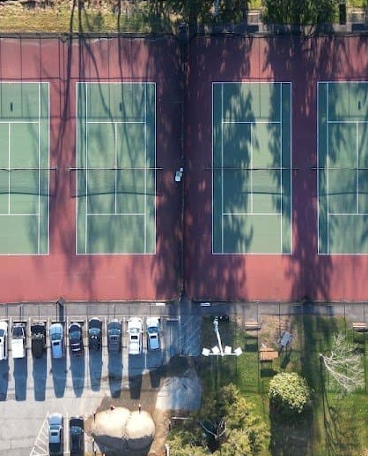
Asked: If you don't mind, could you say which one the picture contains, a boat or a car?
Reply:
car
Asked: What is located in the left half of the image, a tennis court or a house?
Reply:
tennis court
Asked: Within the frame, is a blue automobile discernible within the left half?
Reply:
Yes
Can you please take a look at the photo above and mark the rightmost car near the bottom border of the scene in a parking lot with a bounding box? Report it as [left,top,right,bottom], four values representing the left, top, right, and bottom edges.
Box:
[68,418,86,456]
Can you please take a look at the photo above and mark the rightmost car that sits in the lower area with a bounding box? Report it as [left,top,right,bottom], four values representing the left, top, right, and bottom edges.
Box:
[145,315,161,349]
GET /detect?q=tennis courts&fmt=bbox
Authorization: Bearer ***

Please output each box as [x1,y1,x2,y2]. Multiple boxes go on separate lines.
[75,82,156,256]
[317,82,368,256]
[212,82,293,256]
[0,82,49,256]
